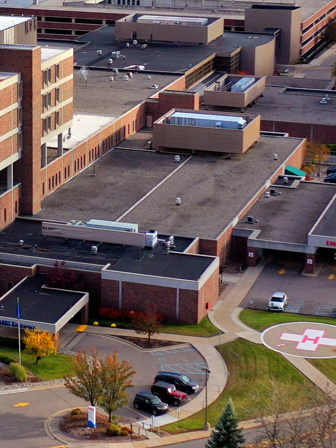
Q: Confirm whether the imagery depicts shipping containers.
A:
No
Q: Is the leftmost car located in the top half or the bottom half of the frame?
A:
bottom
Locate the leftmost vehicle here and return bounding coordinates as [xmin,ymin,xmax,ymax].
[130,389,170,416]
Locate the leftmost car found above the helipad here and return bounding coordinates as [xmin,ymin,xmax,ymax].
[270,288,289,309]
